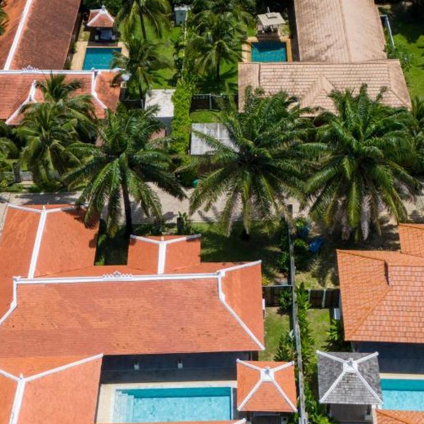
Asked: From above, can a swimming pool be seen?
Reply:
Yes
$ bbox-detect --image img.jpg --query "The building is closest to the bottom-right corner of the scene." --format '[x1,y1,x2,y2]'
[314,348,385,423]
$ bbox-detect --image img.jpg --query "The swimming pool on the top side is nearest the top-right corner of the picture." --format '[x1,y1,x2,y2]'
[247,41,291,61]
